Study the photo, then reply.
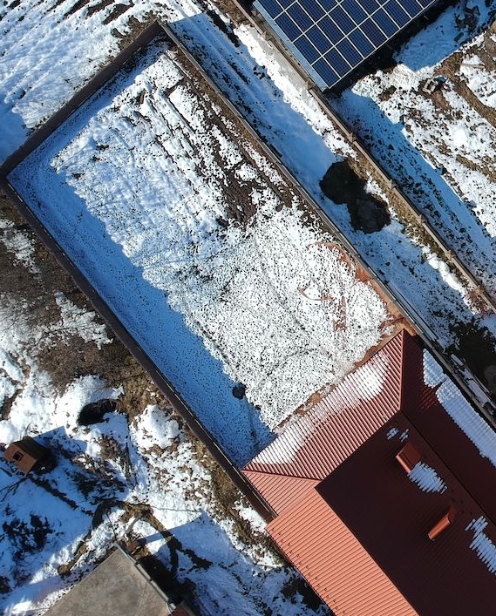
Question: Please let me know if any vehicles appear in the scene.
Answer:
No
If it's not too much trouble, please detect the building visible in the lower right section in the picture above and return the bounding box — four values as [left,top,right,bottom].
[241,328,496,616]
